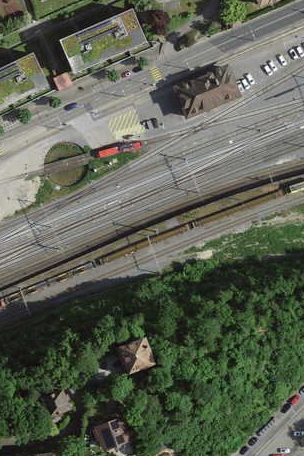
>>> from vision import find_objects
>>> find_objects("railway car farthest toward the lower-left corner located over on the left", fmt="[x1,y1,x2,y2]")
[99,246,129,266]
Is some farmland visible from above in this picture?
No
